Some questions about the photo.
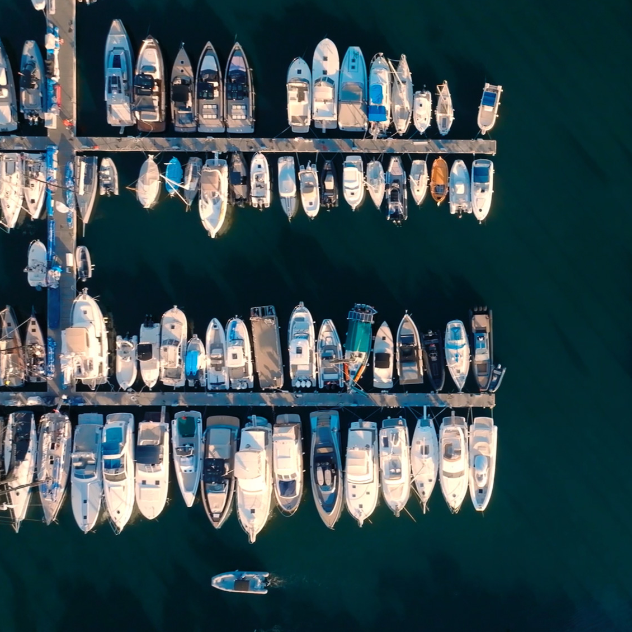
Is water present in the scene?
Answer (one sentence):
Yes, there's water in this view.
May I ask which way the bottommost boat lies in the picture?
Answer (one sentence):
Seen from above, the bottommost boat lies from side to side.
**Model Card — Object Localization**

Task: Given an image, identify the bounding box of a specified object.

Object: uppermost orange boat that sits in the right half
[428,153,450,206]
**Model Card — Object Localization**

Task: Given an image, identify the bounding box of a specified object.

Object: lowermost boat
[208,572,270,594]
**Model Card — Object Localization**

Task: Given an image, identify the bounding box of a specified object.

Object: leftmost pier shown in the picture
[0,135,47,151]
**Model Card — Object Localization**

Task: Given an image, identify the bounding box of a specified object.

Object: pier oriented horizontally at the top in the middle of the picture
[76,136,496,154]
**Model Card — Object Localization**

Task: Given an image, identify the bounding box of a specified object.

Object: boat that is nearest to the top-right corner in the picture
[474,81,503,139]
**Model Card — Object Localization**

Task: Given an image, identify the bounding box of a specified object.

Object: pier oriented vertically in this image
[47,0,77,392]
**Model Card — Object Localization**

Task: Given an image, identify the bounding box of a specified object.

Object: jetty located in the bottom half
[0,392,496,407]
